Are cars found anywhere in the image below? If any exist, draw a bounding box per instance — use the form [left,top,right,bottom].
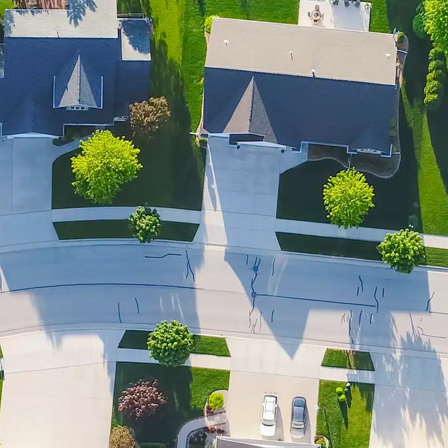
[289,397,309,439]
[259,394,280,438]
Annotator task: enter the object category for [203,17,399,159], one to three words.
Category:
house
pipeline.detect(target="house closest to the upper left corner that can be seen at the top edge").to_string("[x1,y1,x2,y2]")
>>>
[0,0,152,139]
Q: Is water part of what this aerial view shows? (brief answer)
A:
No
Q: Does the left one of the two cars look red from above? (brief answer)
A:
No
